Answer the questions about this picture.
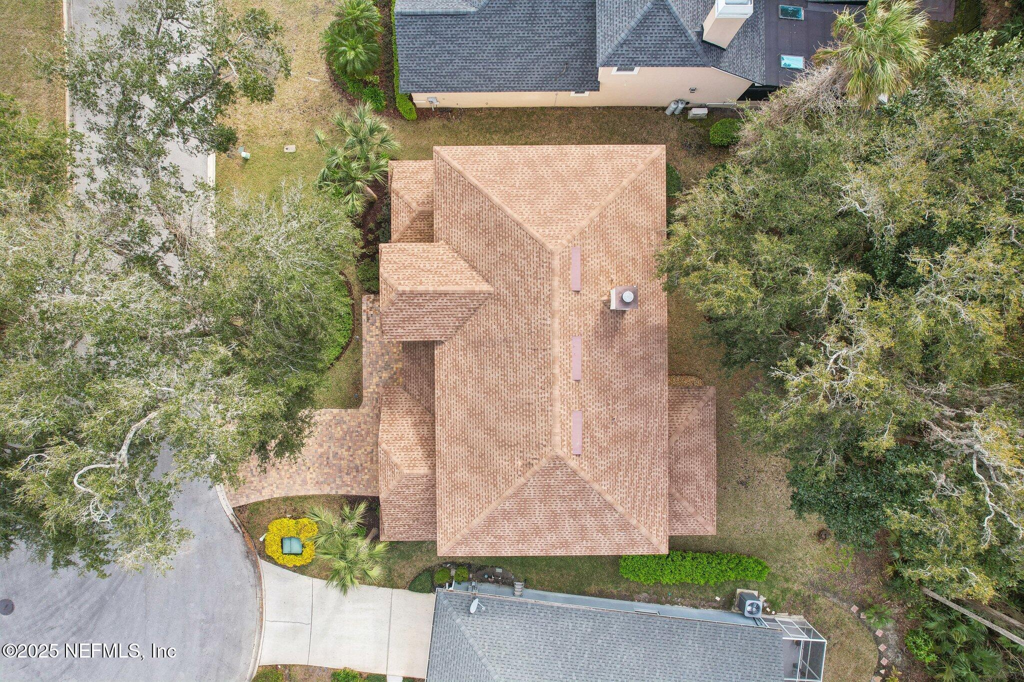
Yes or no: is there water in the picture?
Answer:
No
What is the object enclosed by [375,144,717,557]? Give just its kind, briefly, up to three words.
house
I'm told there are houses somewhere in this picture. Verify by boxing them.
[423,572,786,682]
[395,0,766,107]
[375,144,717,557]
